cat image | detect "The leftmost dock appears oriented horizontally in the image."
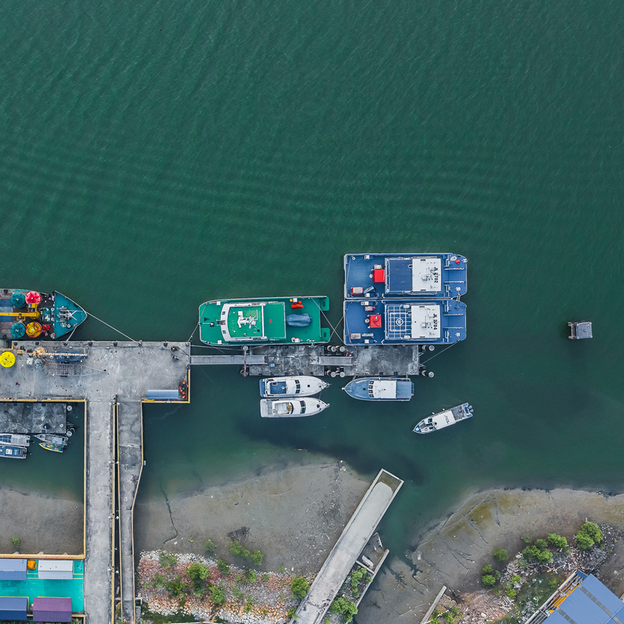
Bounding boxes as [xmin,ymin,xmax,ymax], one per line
[0,403,75,436]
